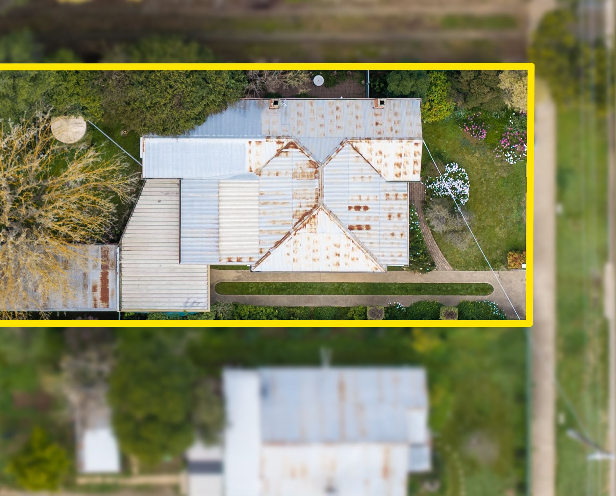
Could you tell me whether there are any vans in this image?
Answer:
No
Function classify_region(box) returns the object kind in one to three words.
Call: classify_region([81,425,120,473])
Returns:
shed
